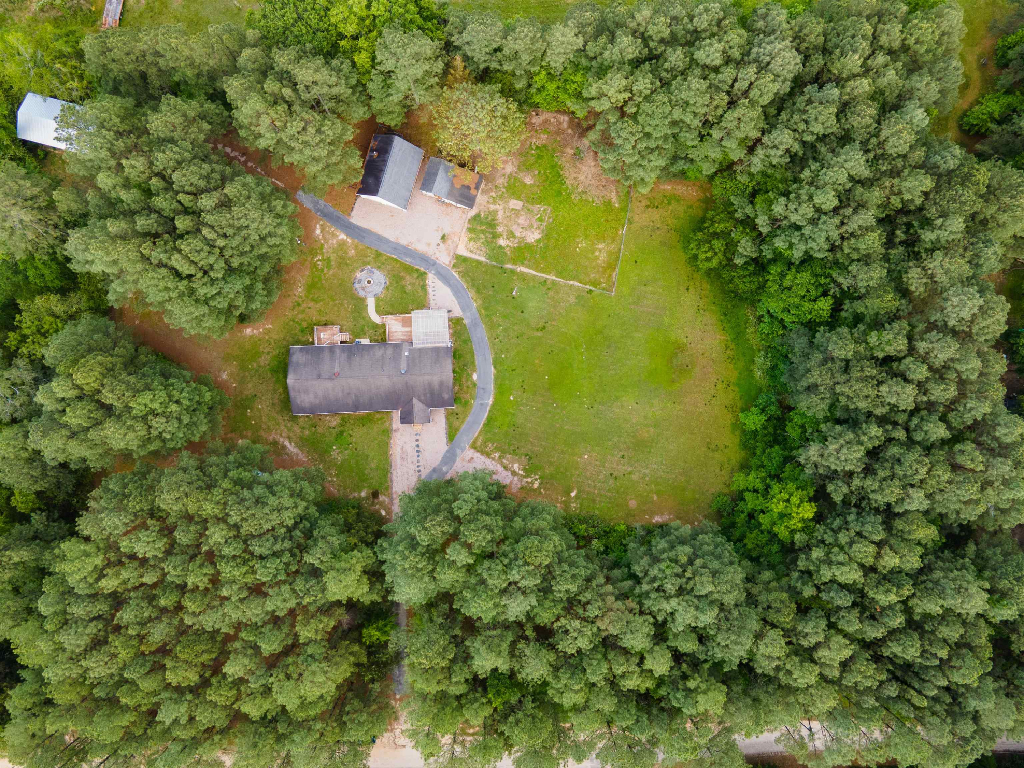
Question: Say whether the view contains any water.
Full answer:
No, the scene doesn't show any water.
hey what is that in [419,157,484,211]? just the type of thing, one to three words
shed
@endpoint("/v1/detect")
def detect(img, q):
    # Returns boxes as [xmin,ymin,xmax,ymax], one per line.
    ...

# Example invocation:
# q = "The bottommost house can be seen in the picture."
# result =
[287,339,455,429]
